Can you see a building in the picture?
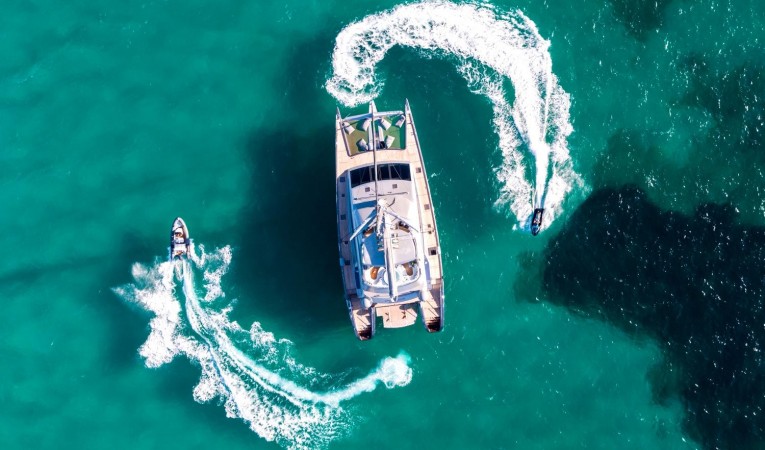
No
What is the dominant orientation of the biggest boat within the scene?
from top to bottom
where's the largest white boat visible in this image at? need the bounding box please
[335,96,443,340]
